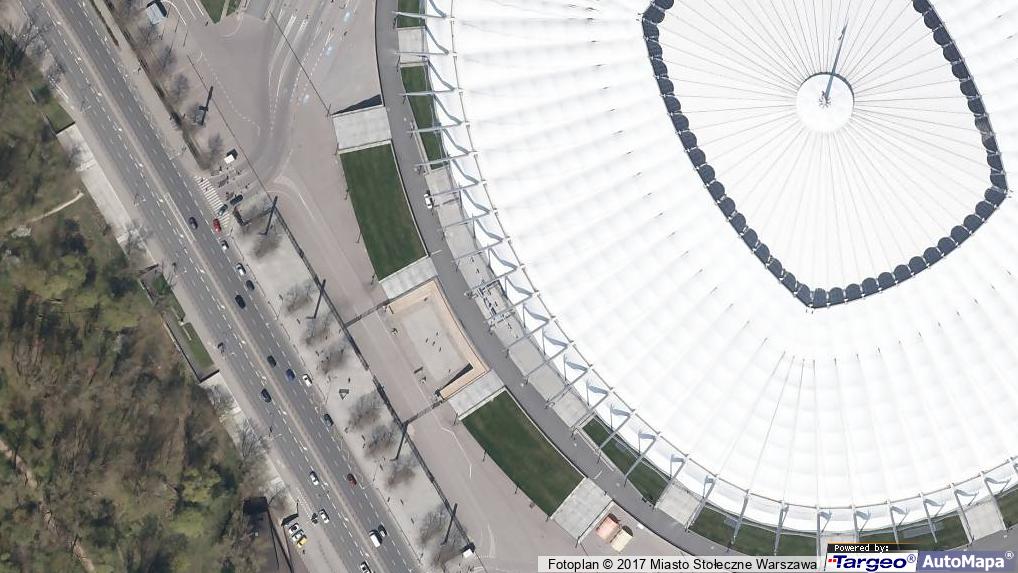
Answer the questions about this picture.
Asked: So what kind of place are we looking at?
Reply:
sports ground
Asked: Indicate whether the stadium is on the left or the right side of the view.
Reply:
right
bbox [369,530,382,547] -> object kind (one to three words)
vehicle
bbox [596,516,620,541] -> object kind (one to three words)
tent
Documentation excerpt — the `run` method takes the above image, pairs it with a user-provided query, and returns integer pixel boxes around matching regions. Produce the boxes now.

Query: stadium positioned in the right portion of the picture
[392,0,1018,564]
